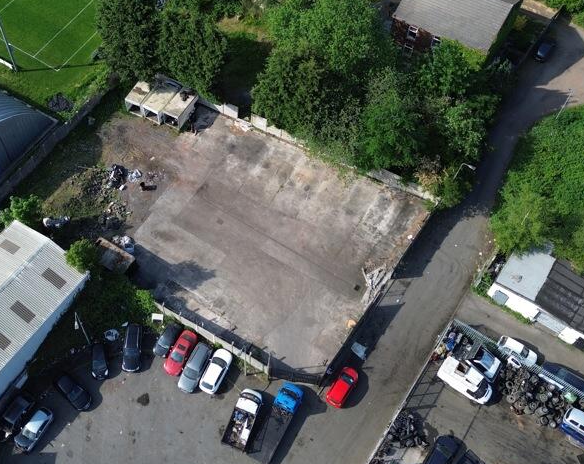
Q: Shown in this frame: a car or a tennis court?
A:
car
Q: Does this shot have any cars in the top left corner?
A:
No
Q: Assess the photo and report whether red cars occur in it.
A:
Yes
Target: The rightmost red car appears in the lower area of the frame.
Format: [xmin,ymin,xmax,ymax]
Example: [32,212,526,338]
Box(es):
[327,368,357,407]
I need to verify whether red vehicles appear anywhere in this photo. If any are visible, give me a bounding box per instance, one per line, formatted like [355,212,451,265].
[327,368,357,407]
[166,331,196,374]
